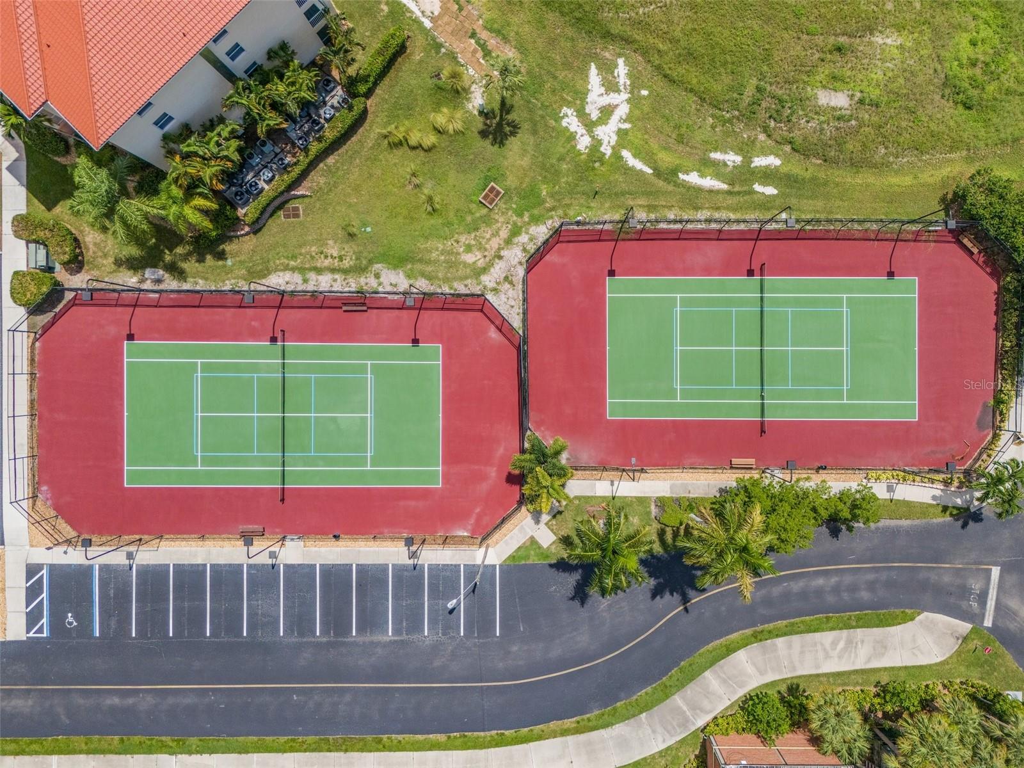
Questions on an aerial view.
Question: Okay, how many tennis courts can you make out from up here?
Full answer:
There are 2 tennis courts in the image.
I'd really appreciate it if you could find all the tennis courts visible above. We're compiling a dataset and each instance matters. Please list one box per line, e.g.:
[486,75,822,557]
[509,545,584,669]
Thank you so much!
[36,294,520,536]
[527,230,998,467]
